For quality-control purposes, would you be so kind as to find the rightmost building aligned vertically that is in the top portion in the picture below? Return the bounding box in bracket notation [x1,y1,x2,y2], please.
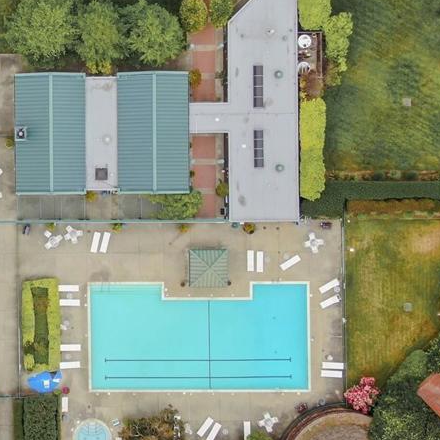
[190,0,300,223]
